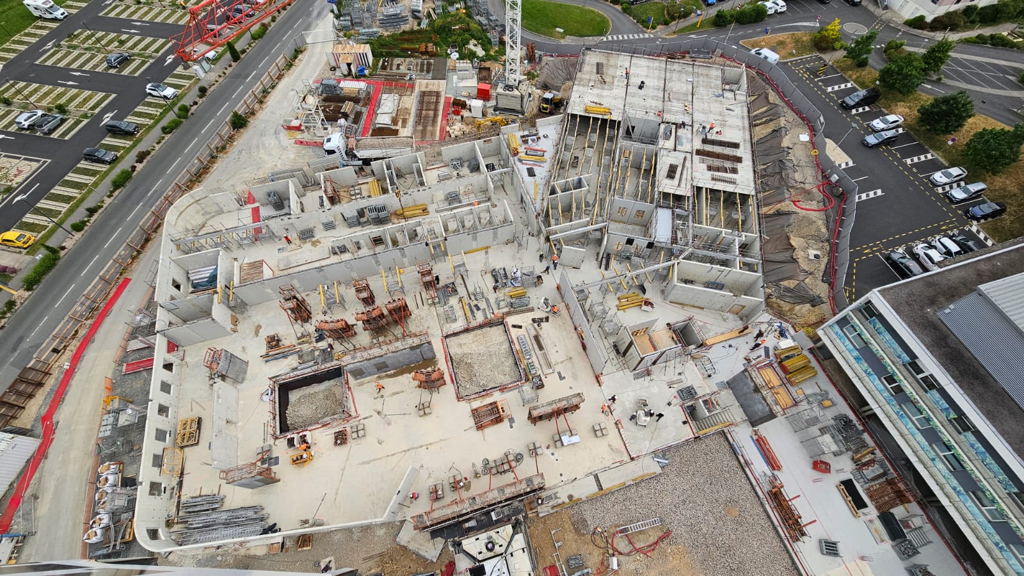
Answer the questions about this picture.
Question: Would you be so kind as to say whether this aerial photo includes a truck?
Yes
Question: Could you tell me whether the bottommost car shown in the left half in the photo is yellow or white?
yellow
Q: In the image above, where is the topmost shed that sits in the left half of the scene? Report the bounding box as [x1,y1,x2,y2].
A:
[327,50,371,82]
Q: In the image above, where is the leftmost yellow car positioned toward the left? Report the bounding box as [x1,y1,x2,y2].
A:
[0,228,38,251]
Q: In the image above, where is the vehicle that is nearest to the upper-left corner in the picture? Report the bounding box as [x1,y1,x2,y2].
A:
[21,0,66,21]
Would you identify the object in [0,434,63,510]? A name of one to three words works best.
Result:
building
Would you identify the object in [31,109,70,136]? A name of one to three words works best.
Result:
car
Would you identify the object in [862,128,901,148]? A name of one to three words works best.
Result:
car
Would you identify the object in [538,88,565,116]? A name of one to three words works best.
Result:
truck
